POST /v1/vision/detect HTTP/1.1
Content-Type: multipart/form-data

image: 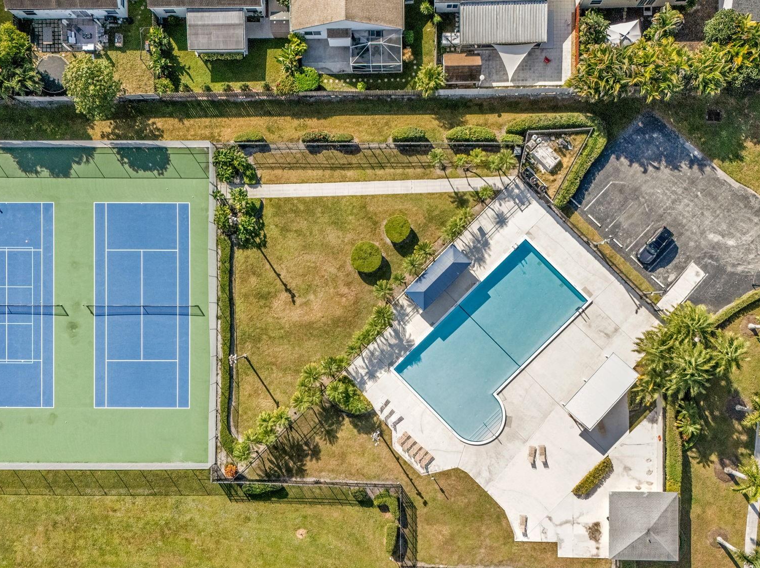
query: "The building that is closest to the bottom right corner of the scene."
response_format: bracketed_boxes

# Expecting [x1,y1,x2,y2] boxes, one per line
[606,490,679,561]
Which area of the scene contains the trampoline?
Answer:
top left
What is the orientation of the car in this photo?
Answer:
diagonally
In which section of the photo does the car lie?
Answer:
right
